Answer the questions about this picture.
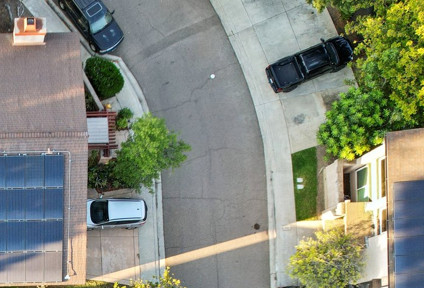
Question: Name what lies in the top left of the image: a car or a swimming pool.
car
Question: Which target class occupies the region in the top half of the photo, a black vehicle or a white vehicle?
black vehicle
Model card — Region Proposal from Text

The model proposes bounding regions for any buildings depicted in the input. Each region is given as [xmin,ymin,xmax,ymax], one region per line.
[324,126,424,288]
[0,16,88,288]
